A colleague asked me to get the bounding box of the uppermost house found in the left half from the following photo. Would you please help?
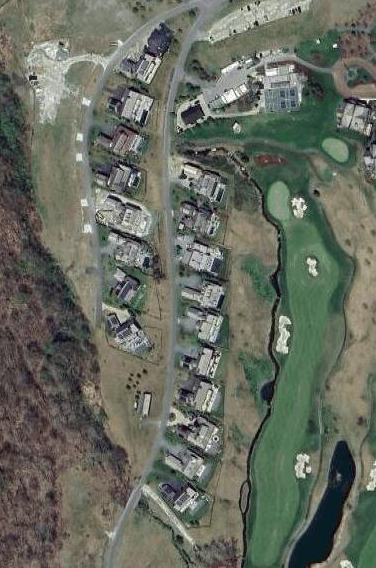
[120,54,162,83]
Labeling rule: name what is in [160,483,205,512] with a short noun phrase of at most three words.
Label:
house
